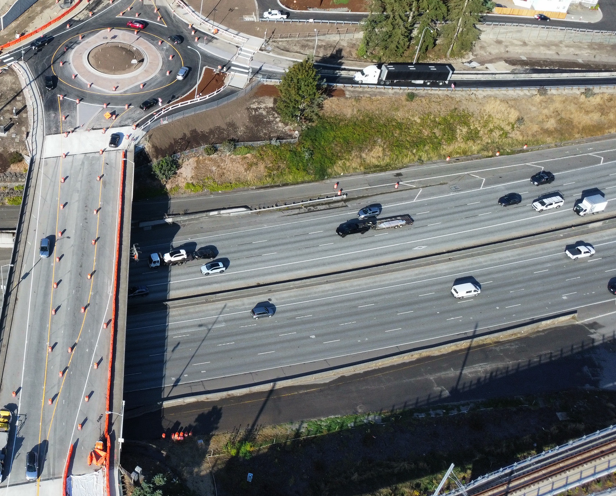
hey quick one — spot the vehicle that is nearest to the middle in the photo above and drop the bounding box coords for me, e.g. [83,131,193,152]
[338,222,370,237]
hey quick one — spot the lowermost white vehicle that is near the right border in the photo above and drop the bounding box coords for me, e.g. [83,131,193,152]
[562,246,596,261]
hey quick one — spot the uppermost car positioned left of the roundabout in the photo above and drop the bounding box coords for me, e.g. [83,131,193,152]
[32,35,50,48]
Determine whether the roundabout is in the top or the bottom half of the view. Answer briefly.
top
